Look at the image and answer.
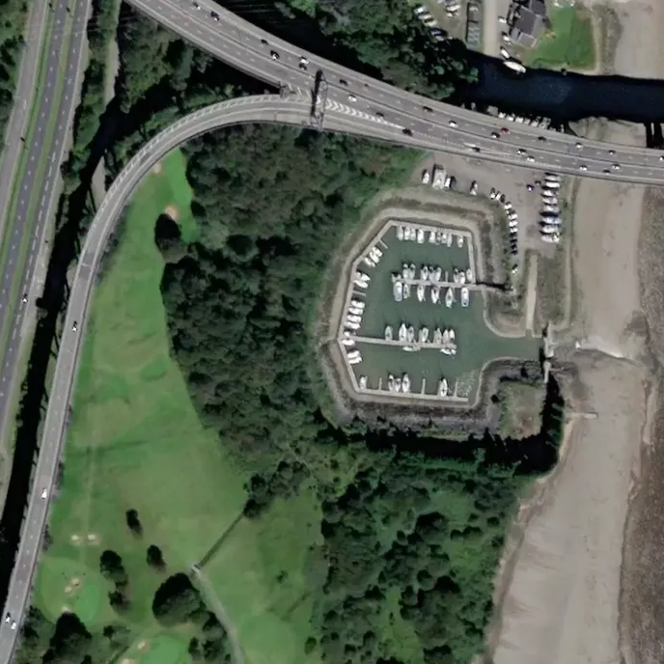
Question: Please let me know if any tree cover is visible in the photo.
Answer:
Yes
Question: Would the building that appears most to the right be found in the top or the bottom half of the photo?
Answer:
top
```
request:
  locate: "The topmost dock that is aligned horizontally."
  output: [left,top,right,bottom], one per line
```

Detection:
[391,222,471,247]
